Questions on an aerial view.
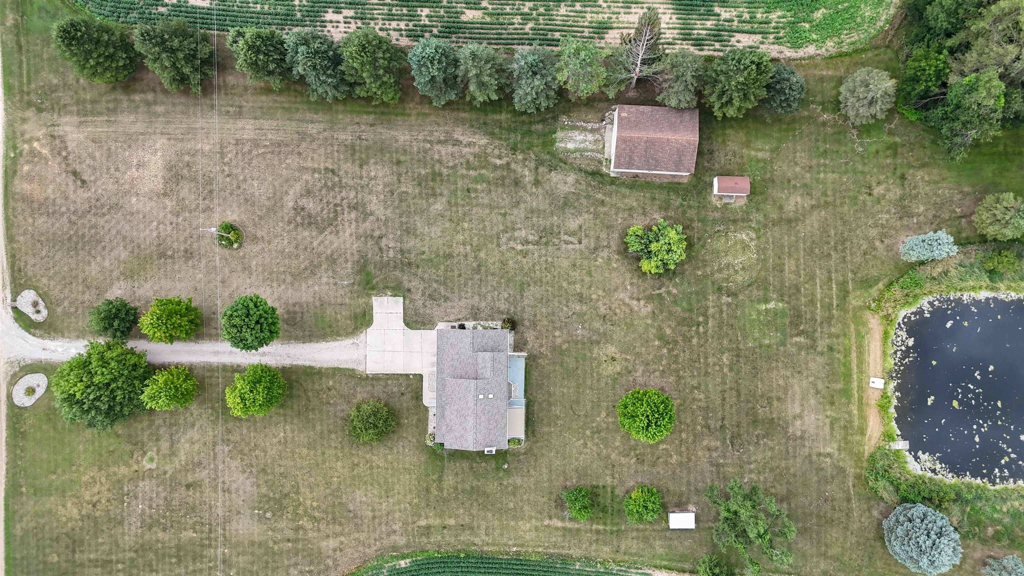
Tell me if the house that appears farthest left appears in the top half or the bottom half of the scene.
bottom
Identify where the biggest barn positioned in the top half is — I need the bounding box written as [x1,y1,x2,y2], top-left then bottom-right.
[611,104,700,177]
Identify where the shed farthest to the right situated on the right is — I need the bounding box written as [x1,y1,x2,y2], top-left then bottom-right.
[713,176,751,196]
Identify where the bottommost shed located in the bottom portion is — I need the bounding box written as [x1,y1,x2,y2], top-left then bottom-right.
[667,507,694,528]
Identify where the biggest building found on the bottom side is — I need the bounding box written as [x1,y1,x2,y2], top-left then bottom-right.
[435,329,512,454]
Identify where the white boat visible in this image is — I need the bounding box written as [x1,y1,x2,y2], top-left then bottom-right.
[869,377,886,389]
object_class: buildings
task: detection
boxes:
[667,507,694,528]
[713,176,751,196]
[435,329,512,454]
[611,104,700,177]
